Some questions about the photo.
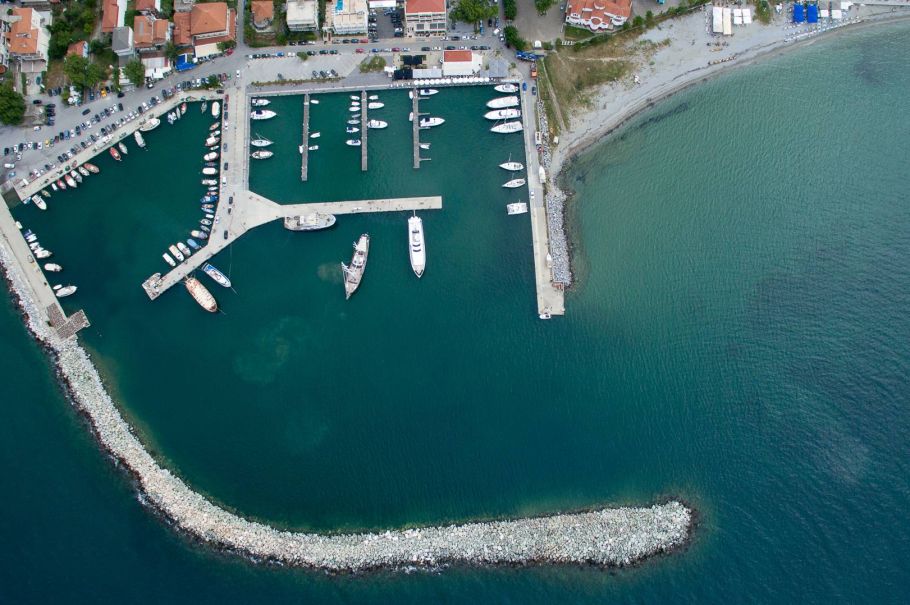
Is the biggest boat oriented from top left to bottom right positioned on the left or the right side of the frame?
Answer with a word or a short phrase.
left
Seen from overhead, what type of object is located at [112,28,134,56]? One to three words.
house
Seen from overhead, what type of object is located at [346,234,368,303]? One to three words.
ship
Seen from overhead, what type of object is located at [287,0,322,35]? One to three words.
building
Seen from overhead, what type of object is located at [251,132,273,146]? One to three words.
boat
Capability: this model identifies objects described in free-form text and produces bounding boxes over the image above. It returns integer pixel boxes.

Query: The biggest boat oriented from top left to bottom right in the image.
[182,275,218,314]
